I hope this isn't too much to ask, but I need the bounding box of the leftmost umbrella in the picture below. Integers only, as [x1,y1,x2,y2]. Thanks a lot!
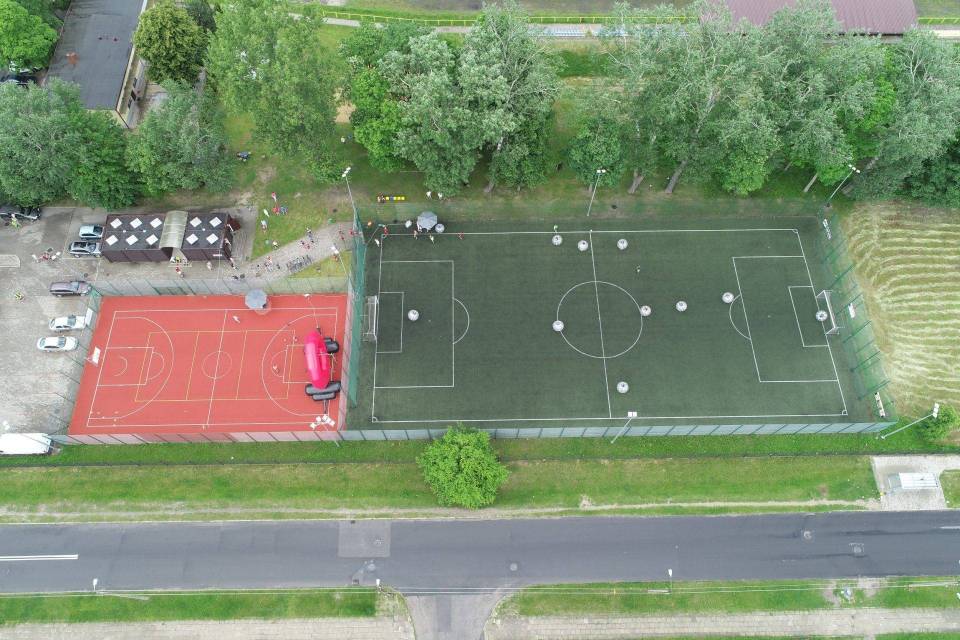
[245,291,268,313]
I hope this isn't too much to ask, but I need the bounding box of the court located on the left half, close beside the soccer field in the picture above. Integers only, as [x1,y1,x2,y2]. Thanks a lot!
[68,292,352,444]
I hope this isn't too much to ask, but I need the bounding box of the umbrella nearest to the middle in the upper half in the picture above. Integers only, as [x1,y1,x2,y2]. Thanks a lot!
[417,216,439,238]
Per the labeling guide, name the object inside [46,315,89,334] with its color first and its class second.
white car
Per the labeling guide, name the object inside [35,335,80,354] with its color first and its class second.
white car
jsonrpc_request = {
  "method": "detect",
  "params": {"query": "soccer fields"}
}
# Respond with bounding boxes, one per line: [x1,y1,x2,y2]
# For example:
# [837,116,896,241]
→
[343,217,874,429]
